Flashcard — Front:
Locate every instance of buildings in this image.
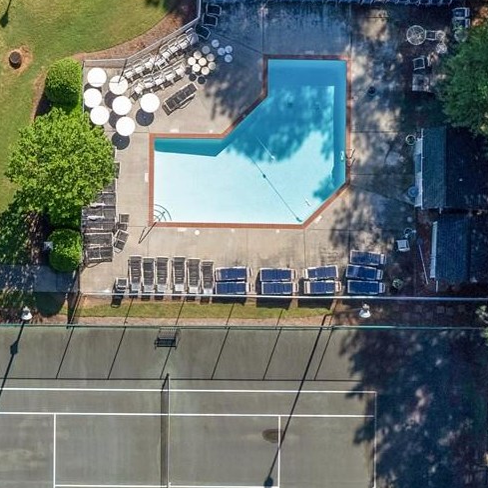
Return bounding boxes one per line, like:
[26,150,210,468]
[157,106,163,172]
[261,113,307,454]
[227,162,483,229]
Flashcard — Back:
[431,219,488,289]
[415,126,487,214]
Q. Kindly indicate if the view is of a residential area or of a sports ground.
sports ground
